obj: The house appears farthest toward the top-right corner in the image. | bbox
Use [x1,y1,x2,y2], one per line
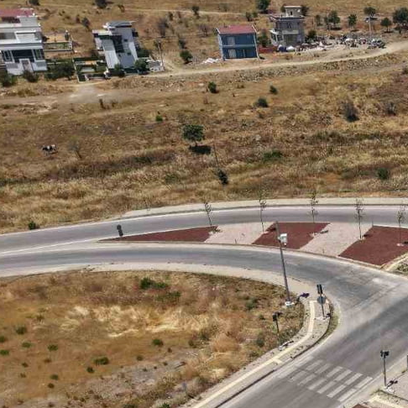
[264,2,304,48]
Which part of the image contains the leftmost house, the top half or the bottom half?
top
